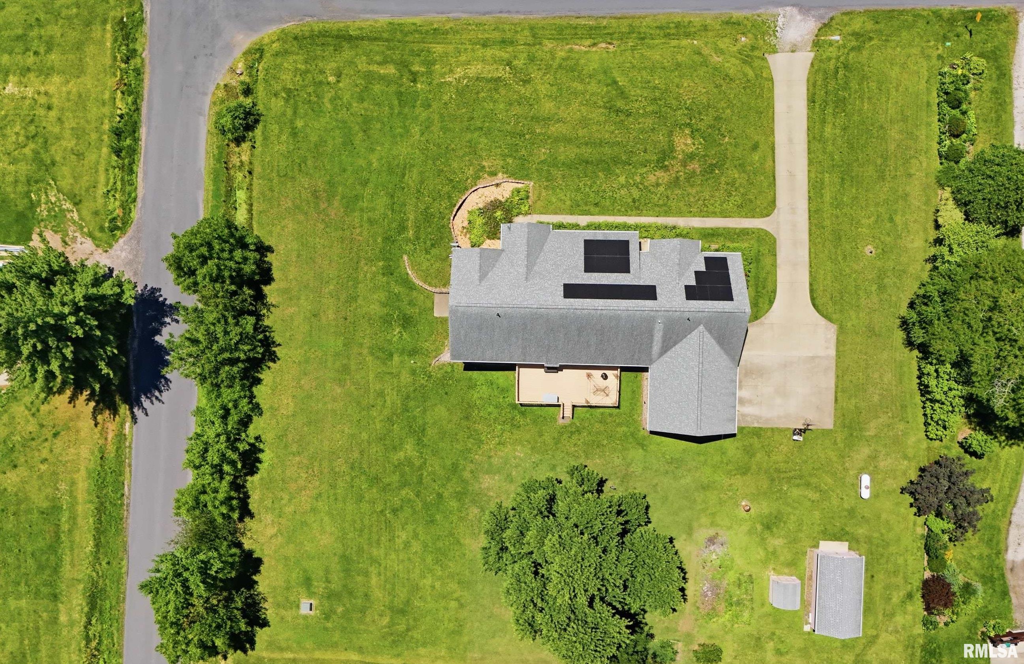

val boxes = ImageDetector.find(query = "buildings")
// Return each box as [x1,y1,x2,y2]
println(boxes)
[448,221,751,438]
[767,576,800,609]
[808,549,866,639]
